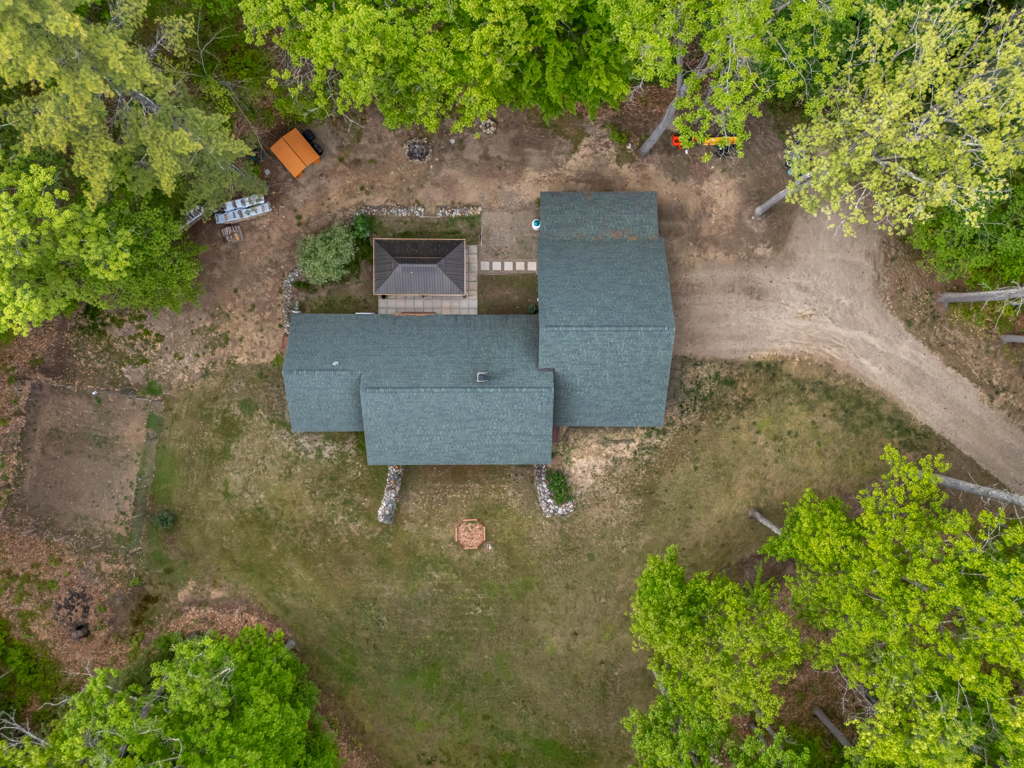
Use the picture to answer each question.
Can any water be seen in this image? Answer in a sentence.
No, there's no water in this view.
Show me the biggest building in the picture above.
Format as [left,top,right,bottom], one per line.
[282,192,675,465]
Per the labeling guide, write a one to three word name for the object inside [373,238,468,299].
gazebo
